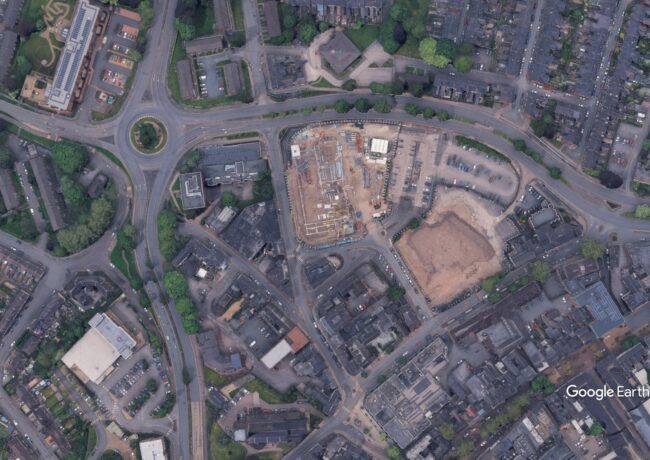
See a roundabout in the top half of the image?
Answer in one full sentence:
Yes, a roundabout appears in the top half of the image.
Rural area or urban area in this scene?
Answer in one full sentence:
The area shown here is urban.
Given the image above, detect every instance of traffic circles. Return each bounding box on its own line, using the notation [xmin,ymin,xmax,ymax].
[119,105,180,166]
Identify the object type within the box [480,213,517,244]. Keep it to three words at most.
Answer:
building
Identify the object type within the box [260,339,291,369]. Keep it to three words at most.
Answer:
shed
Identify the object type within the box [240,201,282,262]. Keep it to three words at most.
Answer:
building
